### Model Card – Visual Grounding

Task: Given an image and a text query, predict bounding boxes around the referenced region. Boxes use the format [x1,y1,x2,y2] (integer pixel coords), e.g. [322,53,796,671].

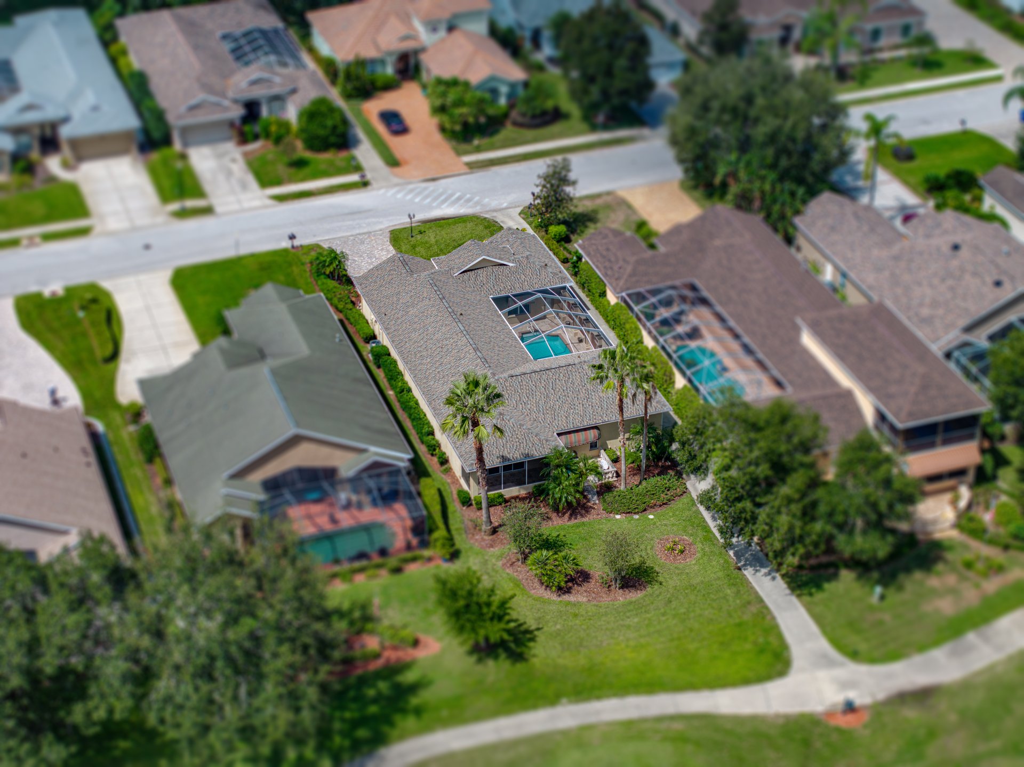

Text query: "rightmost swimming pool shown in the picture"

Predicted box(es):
[662,340,754,402]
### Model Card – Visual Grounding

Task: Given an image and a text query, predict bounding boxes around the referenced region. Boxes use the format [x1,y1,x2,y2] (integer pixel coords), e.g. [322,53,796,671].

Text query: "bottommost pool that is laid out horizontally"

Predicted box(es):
[293,520,403,567]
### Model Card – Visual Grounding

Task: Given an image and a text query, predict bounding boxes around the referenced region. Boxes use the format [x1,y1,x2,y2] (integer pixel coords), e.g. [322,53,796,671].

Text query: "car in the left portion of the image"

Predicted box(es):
[379,104,409,127]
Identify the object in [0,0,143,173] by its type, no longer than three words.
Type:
house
